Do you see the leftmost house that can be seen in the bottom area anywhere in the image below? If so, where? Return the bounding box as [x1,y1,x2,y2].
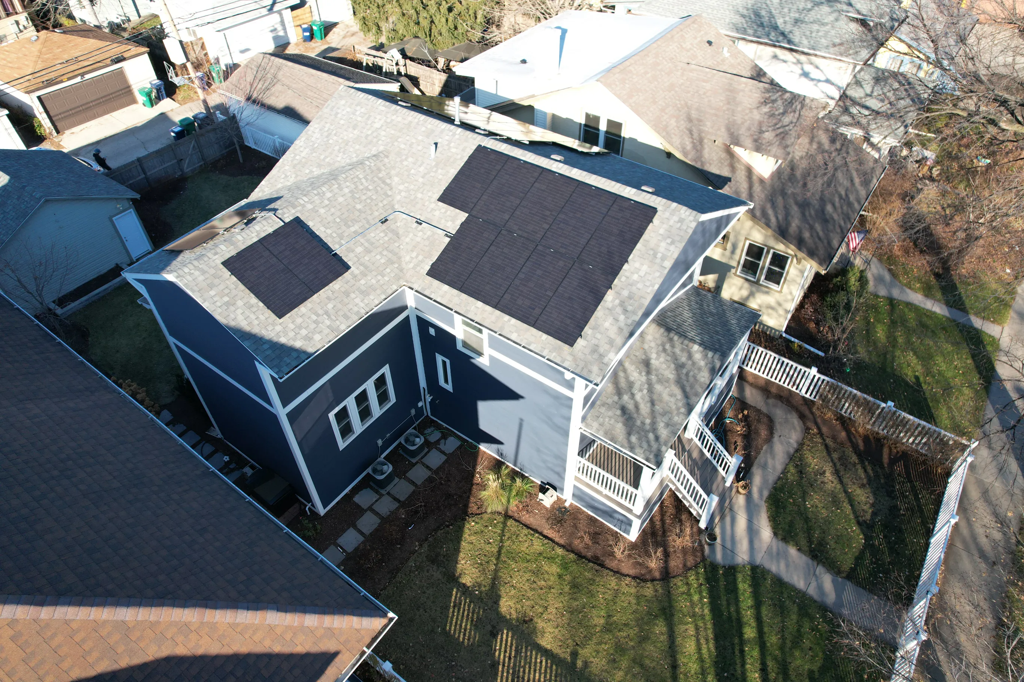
[0,294,397,682]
